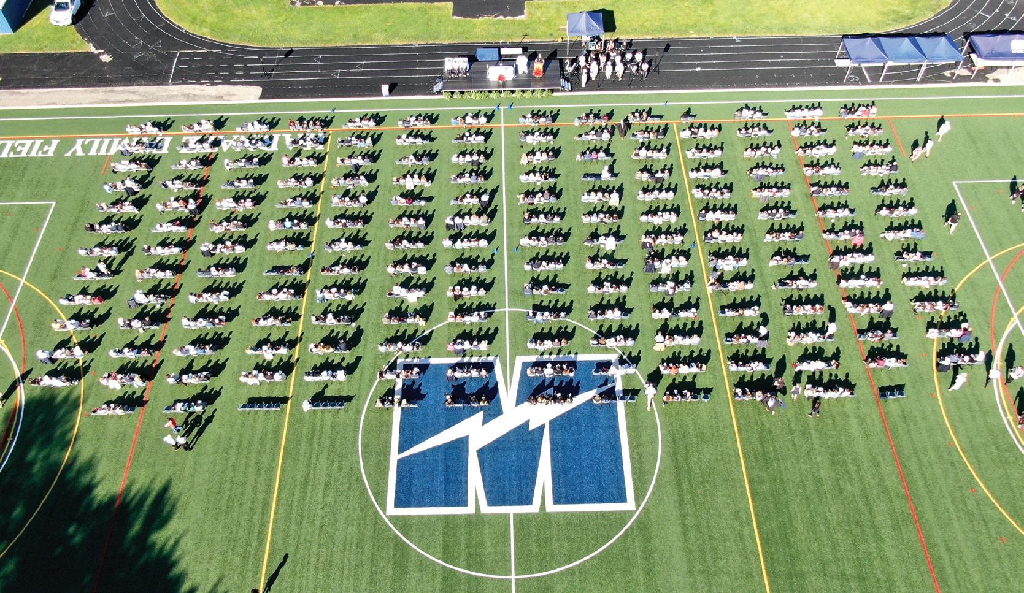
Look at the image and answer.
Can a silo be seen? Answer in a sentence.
No, this view has no silo in it.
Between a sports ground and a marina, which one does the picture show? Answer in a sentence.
This looks like a sports ground.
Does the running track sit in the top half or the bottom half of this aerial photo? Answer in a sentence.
The top half of the photo is where the running track is.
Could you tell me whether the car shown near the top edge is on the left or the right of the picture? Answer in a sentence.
The car shown near the top edge appears in the left half of the scene.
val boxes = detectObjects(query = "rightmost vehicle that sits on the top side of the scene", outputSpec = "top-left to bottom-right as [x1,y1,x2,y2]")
[50,0,83,24]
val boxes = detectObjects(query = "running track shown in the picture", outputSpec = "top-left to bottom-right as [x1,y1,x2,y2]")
[0,0,1024,105]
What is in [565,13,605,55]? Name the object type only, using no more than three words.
tent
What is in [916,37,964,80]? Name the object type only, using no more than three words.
tent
